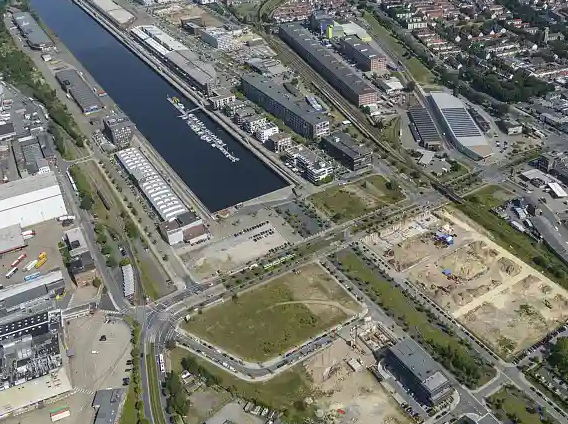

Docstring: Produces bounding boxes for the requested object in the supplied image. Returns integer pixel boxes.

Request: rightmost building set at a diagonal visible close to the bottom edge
[389,338,451,403]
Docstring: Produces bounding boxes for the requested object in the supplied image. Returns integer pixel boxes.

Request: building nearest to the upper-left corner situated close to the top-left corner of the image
[12,11,54,52]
